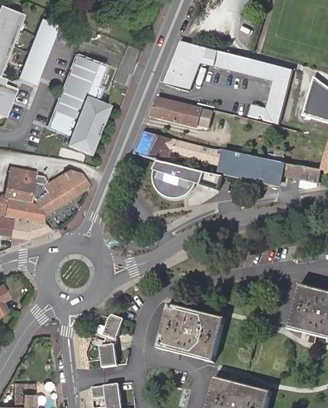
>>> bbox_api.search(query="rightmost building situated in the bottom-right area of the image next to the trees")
[286,284,328,342]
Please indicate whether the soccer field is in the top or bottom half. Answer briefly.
top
